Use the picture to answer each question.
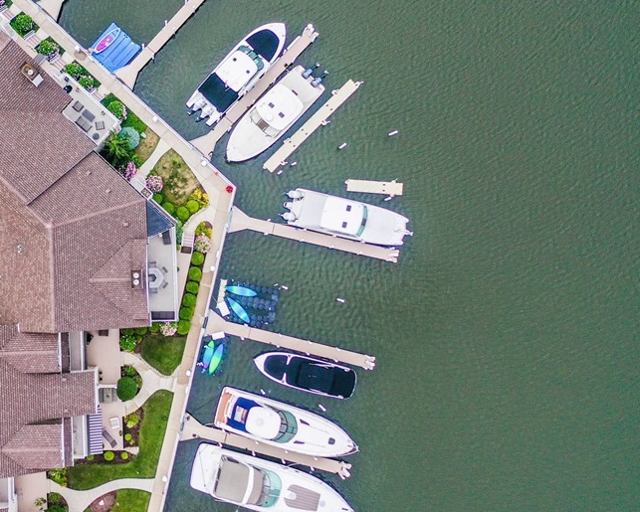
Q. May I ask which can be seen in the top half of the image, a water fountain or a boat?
boat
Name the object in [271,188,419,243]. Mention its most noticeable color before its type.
white boat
